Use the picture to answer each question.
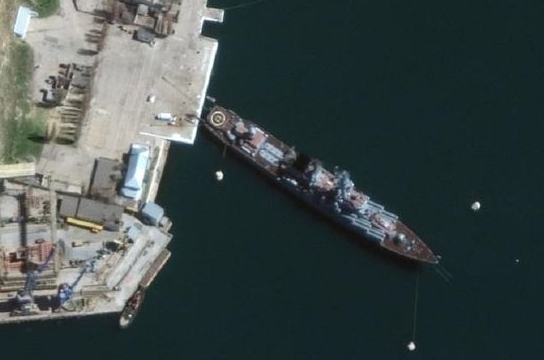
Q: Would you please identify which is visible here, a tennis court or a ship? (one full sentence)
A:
Visible in the photo is a ship.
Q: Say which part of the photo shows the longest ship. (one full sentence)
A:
You can find the longest ship in the center area of the picture.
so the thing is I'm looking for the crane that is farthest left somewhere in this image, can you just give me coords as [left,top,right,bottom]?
[18,254,55,317]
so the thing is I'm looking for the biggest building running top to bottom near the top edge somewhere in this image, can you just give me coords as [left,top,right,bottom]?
[13,5,33,39]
